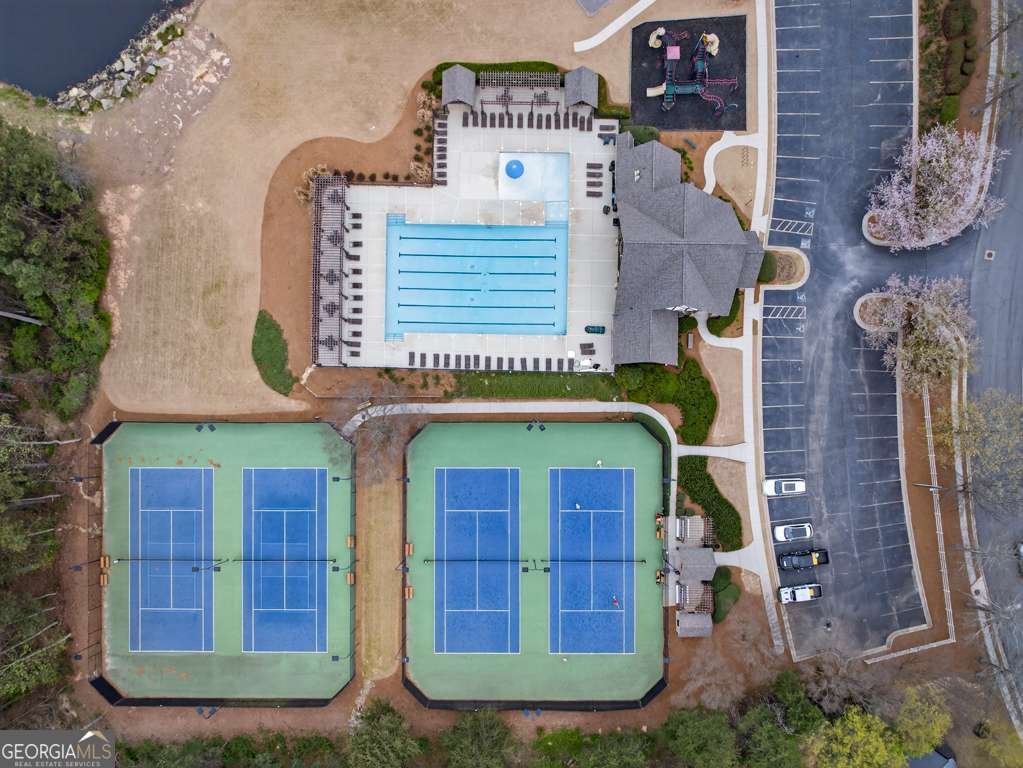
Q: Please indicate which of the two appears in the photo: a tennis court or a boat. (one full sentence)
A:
I can see a tennis court in this picture.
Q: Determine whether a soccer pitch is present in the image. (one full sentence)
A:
No, there appears to be no soccer pitch in this shot.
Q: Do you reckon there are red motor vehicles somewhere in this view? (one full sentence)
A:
No, the scene contains no red motor vehicle.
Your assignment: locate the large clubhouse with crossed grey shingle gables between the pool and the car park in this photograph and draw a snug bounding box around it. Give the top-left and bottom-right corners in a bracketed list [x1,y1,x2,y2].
[612,131,766,365]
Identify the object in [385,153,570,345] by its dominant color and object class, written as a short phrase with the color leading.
blue swimming pool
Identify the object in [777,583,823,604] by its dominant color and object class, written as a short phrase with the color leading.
white vehicle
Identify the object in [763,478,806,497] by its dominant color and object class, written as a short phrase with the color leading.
white car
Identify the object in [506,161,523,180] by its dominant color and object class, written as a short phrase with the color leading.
blue fountain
